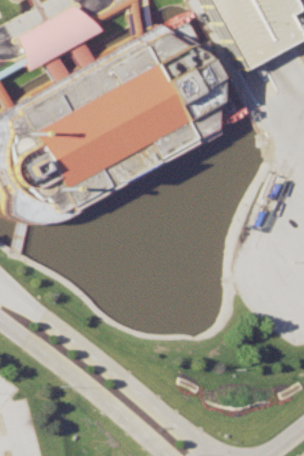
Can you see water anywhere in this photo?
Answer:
Yes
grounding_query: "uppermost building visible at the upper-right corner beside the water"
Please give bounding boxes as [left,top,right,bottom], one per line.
[212,0,304,72]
